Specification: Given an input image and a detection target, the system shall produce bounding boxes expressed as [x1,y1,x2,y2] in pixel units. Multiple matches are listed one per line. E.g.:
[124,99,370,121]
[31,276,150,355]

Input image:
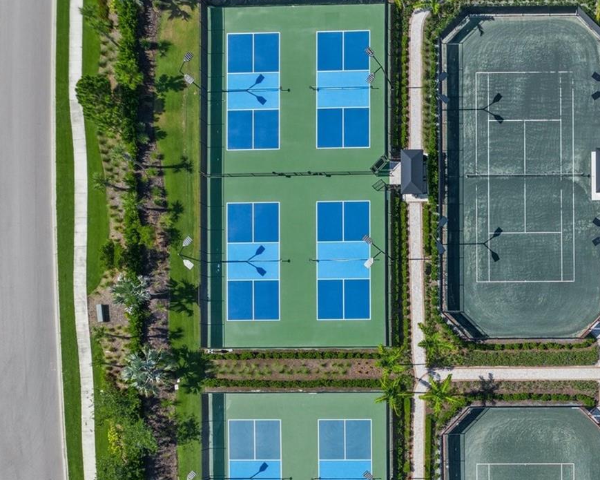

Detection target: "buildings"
[400,150,424,196]
[591,148,600,201]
